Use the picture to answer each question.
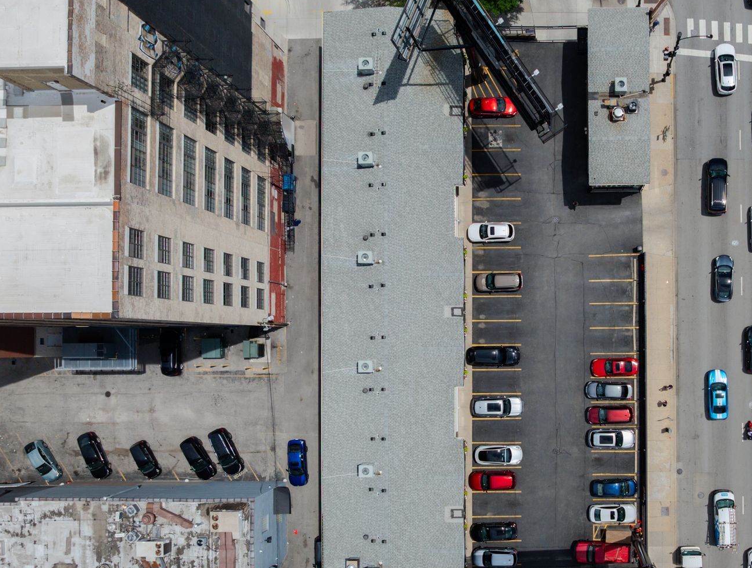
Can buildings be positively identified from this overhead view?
Yes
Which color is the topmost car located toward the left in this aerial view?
black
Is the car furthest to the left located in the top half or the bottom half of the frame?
bottom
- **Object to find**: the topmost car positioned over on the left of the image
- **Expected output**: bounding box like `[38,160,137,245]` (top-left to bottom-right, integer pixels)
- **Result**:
[158,329,185,378]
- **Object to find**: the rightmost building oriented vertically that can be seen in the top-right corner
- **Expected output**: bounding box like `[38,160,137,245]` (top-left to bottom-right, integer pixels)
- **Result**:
[586,8,651,196]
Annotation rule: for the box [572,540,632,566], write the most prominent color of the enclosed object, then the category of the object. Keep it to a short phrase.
red truck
